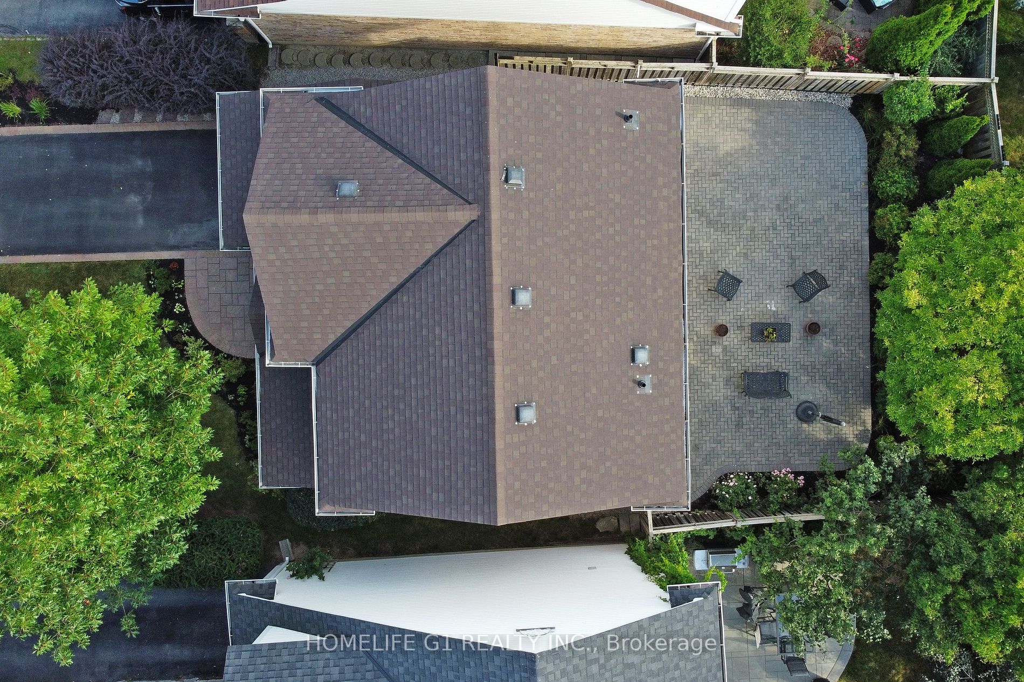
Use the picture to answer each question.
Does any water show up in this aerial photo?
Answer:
No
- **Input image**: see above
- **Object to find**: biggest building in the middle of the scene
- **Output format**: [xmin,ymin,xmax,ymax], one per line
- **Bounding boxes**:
[217,65,691,526]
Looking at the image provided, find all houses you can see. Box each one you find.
[217,65,691,526]
[194,0,737,62]
[226,545,726,682]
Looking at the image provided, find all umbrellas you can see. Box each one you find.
[796,401,847,423]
